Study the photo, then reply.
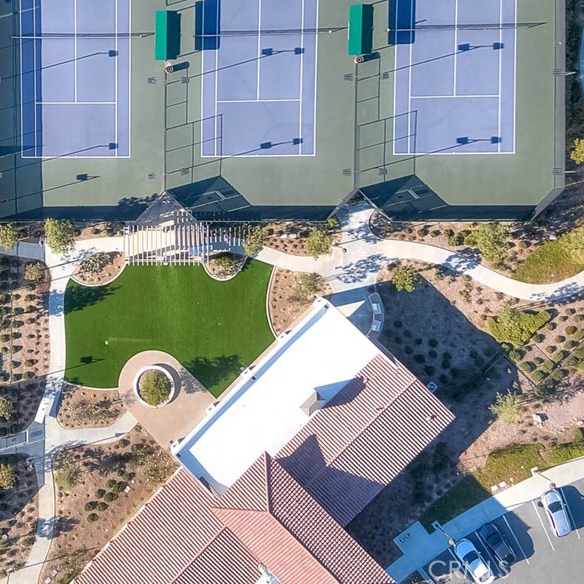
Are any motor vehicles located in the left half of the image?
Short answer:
No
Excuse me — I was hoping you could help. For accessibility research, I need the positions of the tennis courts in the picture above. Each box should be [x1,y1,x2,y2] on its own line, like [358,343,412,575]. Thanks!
[0,0,167,219]
[166,0,358,220]
[354,0,555,219]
